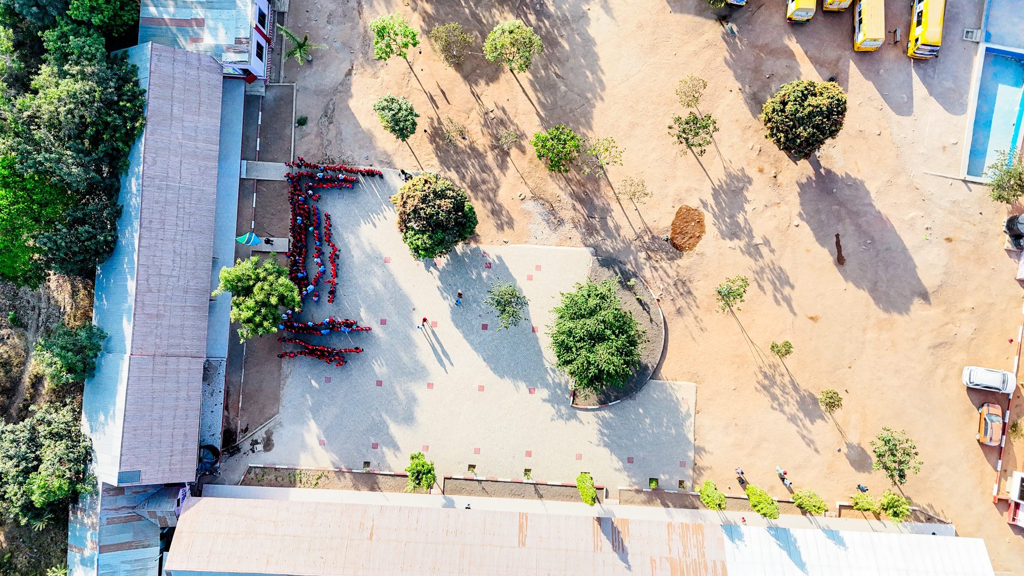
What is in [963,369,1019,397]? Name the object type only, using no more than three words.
car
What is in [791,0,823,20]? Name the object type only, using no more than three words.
bus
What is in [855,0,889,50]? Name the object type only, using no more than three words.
bus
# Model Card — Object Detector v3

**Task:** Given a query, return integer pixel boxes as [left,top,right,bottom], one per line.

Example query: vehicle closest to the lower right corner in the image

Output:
[977,404,1009,450]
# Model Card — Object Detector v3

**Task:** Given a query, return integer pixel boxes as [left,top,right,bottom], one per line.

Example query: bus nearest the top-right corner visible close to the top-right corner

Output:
[908,0,949,57]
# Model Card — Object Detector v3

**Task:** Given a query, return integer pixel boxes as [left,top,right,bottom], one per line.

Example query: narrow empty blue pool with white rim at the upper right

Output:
[963,44,1024,190]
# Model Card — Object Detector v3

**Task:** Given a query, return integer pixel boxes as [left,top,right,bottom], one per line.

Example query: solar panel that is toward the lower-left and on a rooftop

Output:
[118,470,141,484]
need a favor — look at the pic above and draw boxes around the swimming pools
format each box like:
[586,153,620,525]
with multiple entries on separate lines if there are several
[980,0,1024,47]
[963,44,1024,190]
